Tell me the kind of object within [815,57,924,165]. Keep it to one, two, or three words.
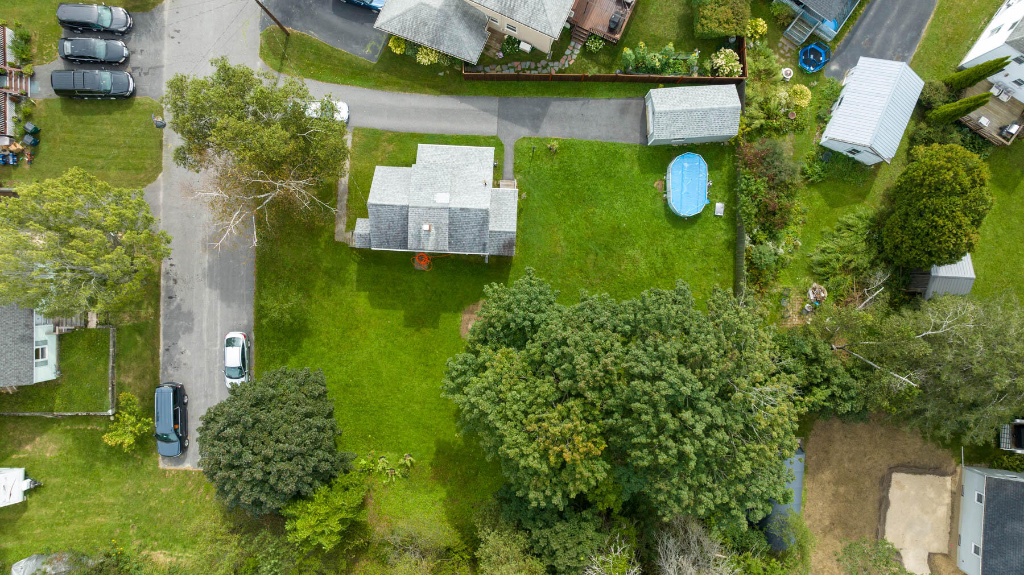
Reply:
building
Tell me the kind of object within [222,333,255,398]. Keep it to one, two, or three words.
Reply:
car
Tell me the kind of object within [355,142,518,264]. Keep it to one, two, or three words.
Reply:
house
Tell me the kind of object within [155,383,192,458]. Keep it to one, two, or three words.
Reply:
car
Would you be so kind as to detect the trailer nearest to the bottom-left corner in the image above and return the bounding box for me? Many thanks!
[0,464,46,508]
